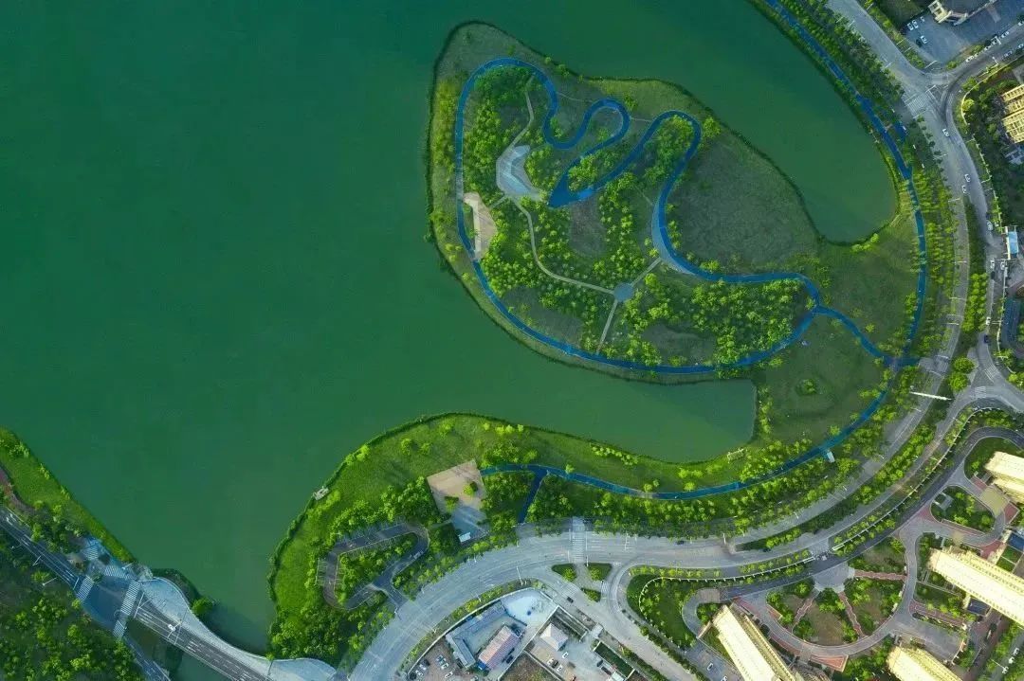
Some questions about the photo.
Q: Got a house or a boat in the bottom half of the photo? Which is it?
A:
house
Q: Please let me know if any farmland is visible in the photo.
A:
No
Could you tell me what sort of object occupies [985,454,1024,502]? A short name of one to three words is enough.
building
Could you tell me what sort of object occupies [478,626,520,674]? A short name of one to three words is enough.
building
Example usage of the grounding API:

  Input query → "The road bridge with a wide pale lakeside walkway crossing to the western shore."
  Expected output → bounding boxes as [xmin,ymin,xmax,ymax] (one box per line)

[133,576,344,681]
